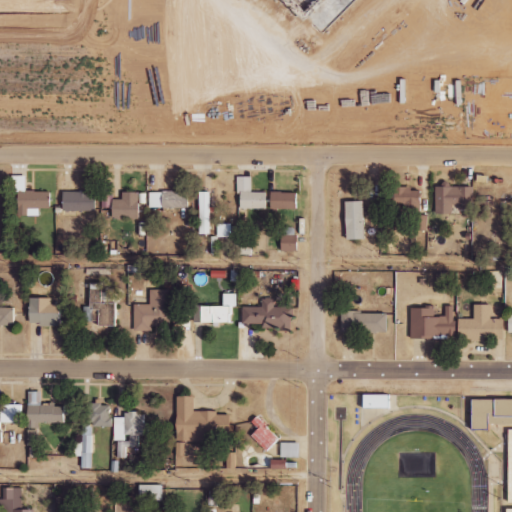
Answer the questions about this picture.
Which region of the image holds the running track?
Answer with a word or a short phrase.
bottom right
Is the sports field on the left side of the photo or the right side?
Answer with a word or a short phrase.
right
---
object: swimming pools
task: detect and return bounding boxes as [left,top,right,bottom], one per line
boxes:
[194,272,209,287]
[38,270,54,287]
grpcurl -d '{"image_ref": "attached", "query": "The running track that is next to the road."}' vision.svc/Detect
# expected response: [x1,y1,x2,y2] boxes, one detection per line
[344,414,489,512]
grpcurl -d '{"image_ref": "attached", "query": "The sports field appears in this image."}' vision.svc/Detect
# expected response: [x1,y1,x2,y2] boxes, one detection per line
[362,431,472,512]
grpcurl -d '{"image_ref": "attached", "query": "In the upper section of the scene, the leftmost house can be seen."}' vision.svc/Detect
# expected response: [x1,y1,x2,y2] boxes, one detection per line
[14,175,50,220]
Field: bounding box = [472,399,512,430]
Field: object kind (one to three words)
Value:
building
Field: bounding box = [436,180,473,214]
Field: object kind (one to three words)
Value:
house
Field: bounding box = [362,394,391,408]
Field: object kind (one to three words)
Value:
building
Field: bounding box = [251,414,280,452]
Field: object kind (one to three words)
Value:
house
